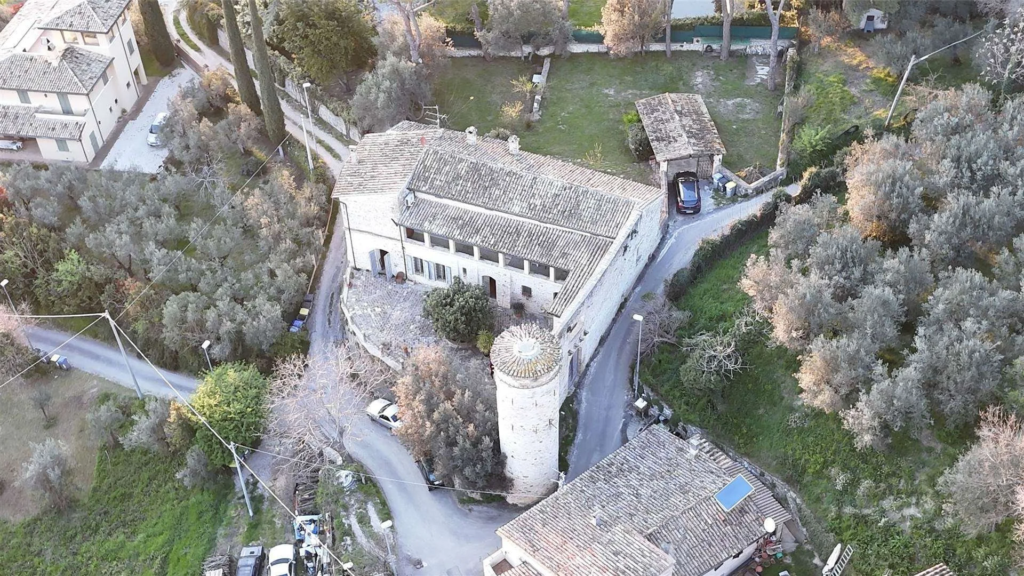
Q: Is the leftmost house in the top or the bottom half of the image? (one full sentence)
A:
Seen from above, the leftmost house lies in the top half of the view.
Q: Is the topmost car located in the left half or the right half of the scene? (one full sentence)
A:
The topmost car is on the left side of the image.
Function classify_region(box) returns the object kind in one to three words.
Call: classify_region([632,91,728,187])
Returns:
building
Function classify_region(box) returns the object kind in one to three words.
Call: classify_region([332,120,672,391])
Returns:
house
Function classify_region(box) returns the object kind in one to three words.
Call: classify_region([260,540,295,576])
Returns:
car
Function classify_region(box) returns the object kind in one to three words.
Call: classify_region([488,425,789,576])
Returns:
house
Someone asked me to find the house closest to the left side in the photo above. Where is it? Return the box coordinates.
[0,0,142,161]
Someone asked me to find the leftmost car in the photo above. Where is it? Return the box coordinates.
[142,110,171,144]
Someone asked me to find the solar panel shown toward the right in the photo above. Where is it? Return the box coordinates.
[714,476,754,517]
